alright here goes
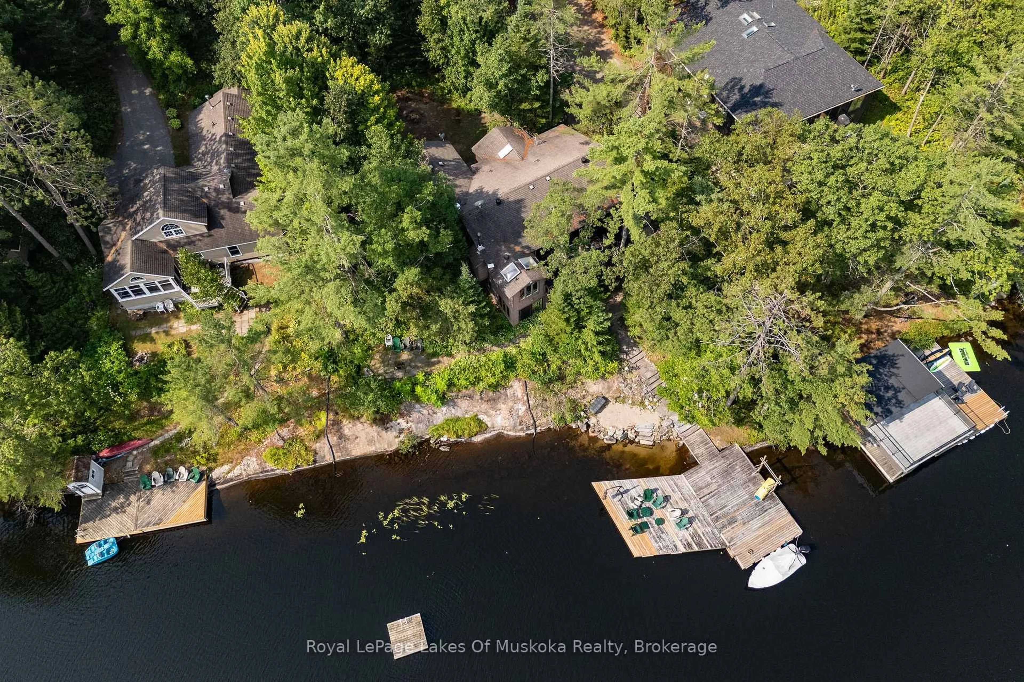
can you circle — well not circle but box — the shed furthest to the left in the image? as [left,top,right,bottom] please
[66,460,105,503]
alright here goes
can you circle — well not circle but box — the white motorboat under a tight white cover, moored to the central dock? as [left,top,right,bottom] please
[749,539,809,587]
